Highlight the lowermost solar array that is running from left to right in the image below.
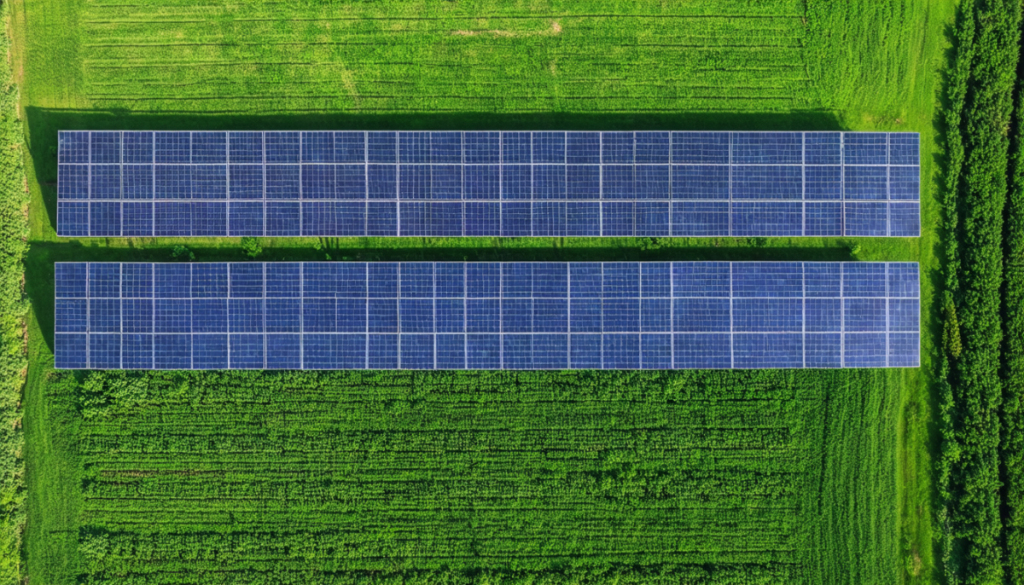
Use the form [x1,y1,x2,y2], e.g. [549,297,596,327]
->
[55,262,920,369]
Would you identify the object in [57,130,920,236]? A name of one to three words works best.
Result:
solar array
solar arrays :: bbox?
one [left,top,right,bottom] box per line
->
[57,130,920,236]
[55,262,920,369]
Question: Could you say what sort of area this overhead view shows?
solar farm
